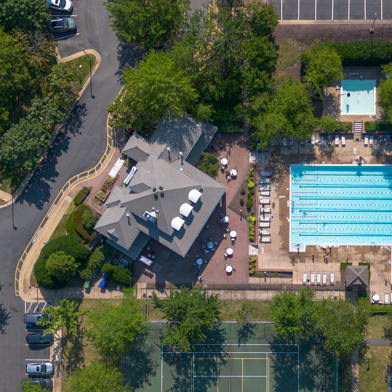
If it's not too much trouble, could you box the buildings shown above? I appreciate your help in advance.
[94,108,227,261]
[346,265,370,287]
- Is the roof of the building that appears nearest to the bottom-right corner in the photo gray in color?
Yes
